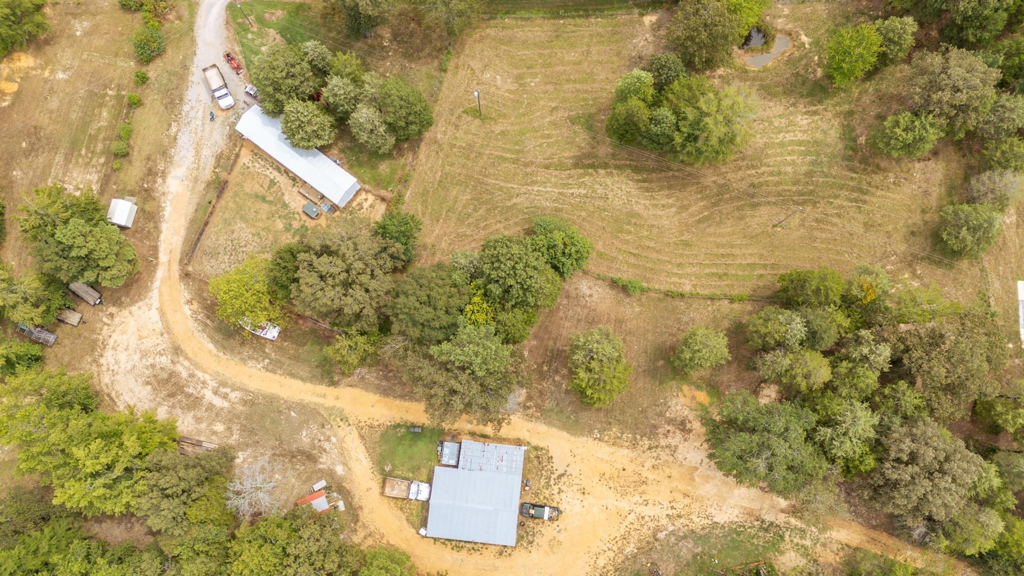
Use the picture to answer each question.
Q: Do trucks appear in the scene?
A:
Yes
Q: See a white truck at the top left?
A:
Yes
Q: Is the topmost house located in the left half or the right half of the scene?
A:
left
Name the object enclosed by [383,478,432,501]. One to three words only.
truck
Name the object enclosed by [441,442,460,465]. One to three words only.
shed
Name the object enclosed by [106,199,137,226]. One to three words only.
shed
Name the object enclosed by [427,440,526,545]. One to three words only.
building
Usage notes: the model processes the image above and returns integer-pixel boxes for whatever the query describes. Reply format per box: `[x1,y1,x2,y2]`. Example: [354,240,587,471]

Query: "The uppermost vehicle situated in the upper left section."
[222,50,248,78]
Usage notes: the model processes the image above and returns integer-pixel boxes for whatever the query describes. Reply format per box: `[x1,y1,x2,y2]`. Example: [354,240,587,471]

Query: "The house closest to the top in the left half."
[237,106,359,207]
